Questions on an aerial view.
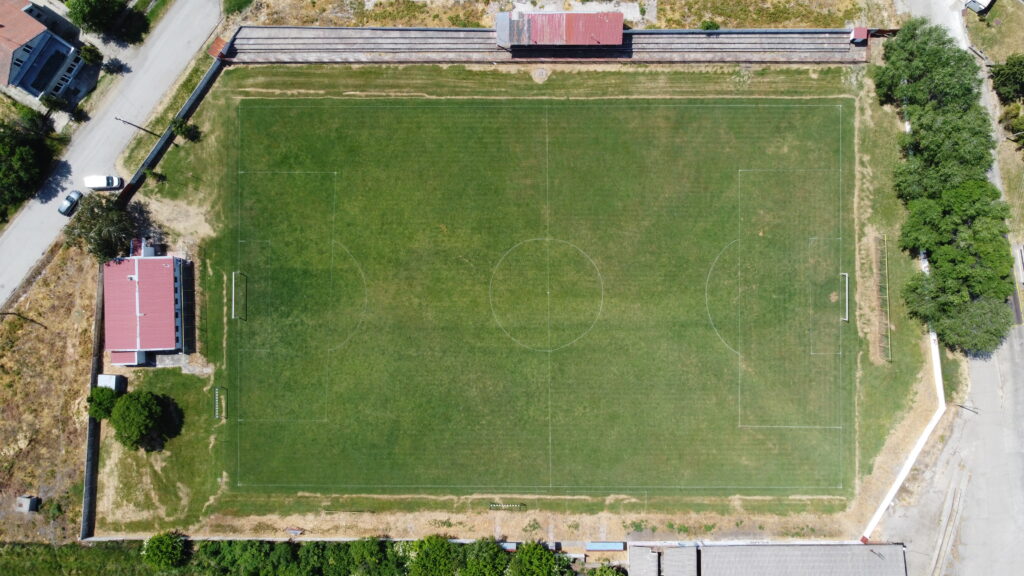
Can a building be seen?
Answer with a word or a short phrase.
Yes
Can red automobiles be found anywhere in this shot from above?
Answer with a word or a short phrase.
No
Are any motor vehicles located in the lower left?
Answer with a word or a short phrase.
No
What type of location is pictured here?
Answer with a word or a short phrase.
sports ground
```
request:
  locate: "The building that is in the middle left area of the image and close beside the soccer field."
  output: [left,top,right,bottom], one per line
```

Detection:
[104,239,183,362]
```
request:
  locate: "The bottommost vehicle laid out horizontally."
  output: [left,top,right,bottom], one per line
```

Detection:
[80,174,120,189]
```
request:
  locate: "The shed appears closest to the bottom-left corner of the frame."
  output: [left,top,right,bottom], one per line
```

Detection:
[98,372,124,390]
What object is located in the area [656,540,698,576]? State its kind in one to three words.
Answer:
building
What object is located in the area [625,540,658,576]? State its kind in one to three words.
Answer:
building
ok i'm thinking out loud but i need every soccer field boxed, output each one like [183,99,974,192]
[229,98,857,497]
